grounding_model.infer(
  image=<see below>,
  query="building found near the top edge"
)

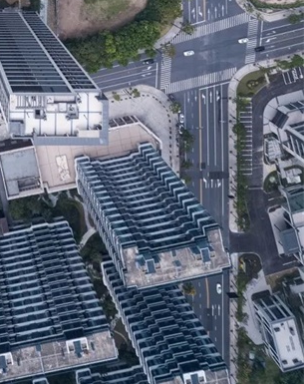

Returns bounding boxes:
[0,7,111,145]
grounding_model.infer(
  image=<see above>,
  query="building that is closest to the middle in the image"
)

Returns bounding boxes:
[80,145,228,293]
